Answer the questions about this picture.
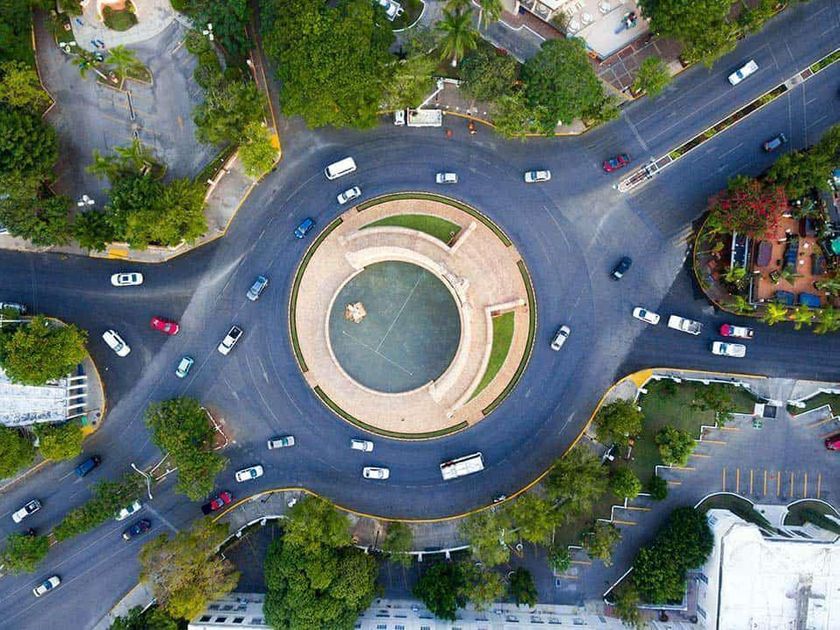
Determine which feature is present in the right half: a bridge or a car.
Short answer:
car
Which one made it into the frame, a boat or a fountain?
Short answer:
fountain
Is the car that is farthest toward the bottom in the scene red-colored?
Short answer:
No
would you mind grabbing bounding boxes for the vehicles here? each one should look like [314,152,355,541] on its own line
[234,463,265,482]
[74,454,103,477]
[32,573,63,597]
[121,517,153,541]
[362,466,389,481]
[336,185,362,204]
[760,133,787,153]
[267,434,295,449]
[719,323,756,339]
[439,453,485,480]
[111,272,144,286]
[246,275,269,301]
[114,499,143,523]
[11,497,44,523]
[436,171,457,185]
[726,58,760,85]
[523,169,550,183]
[100,329,132,357]
[393,77,458,126]
[710,341,747,357]
[201,490,233,514]
[325,157,357,179]
[218,324,244,355]
[666,315,705,337]
[632,307,662,325]
[176,355,194,378]
[149,316,180,335]
[350,438,374,452]
[550,323,569,352]
[609,256,632,281]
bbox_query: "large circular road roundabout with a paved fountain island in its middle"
[210,113,616,519]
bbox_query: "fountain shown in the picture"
[324,246,469,398]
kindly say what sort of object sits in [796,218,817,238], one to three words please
umbrella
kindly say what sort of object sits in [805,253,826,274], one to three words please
umbrella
